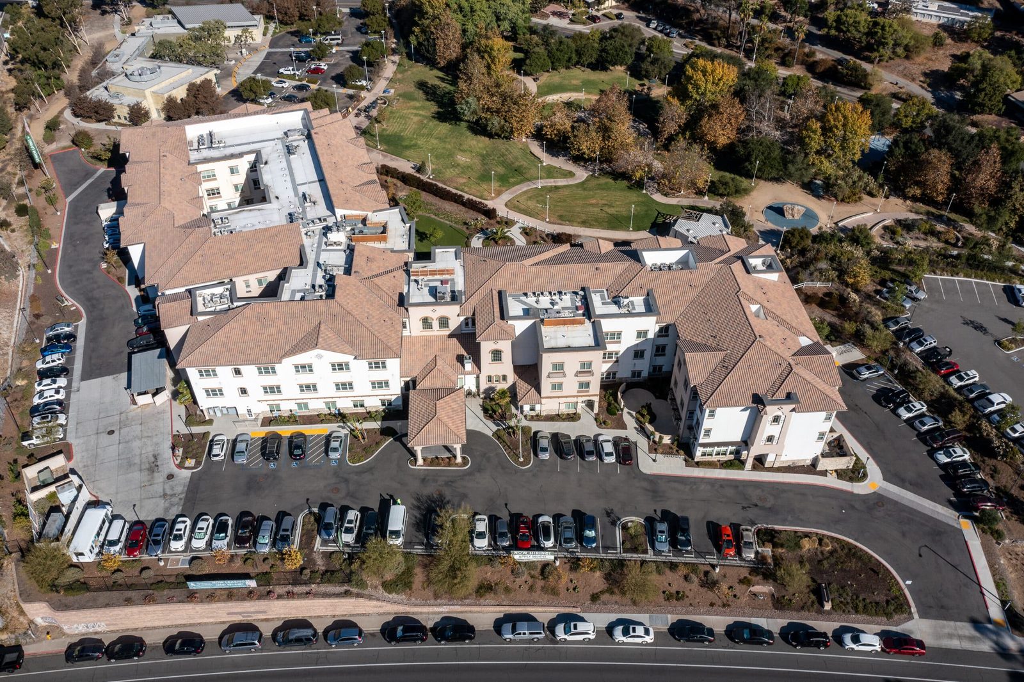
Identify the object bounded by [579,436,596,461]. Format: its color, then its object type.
gray car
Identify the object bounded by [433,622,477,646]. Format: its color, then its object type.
black car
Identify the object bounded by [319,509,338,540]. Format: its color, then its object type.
blue car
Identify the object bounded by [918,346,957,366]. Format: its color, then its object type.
black vehicle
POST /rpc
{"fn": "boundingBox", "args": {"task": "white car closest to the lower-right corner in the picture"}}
[840,632,883,655]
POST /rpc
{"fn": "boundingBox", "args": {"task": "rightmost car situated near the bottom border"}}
[880,635,928,659]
